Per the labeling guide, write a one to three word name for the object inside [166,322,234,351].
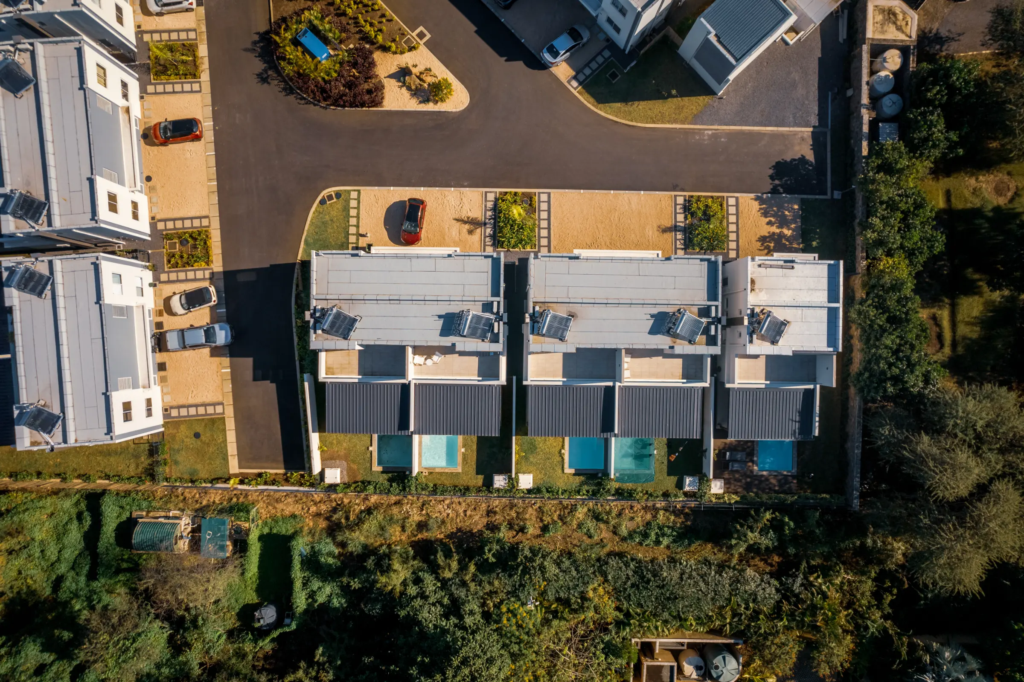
vehicle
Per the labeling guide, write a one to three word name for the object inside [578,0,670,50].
house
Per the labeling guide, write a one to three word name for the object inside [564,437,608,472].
swimming pool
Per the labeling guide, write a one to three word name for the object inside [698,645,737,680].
water tank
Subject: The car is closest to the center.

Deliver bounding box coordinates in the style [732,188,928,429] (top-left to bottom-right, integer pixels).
[398,195,428,247]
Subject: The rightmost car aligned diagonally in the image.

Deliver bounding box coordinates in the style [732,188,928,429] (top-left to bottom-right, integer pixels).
[538,21,593,71]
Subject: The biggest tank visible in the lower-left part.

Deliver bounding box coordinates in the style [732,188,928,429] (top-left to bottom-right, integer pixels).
[129,515,186,553]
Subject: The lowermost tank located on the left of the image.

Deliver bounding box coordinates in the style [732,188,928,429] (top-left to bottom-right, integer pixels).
[256,597,286,624]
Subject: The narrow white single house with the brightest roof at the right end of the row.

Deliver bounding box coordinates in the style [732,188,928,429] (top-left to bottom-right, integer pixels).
[716,253,848,441]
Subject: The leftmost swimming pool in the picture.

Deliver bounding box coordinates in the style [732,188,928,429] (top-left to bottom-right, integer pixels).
[368,423,412,470]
